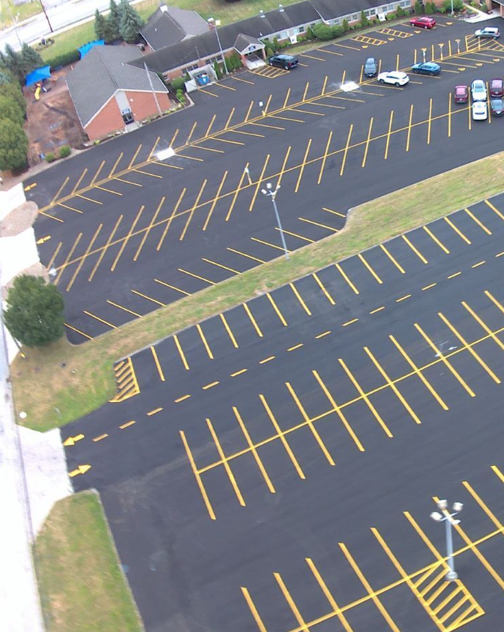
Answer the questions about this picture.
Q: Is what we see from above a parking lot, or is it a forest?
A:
parking lot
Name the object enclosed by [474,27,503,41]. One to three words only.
vehicle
